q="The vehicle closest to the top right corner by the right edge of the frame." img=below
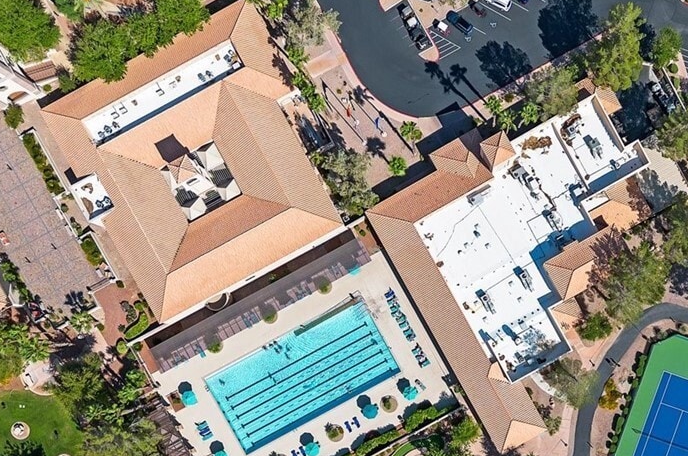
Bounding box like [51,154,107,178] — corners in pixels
[649,82,675,111]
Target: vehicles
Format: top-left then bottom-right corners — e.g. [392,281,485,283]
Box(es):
[399,1,414,17]
[486,0,513,13]
[437,20,451,38]
[415,38,430,54]
[409,25,424,41]
[404,14,419,30]
[447,11,473,36]
[649,82,675,111]
[519,0,534,6]
[470,0,484,18]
